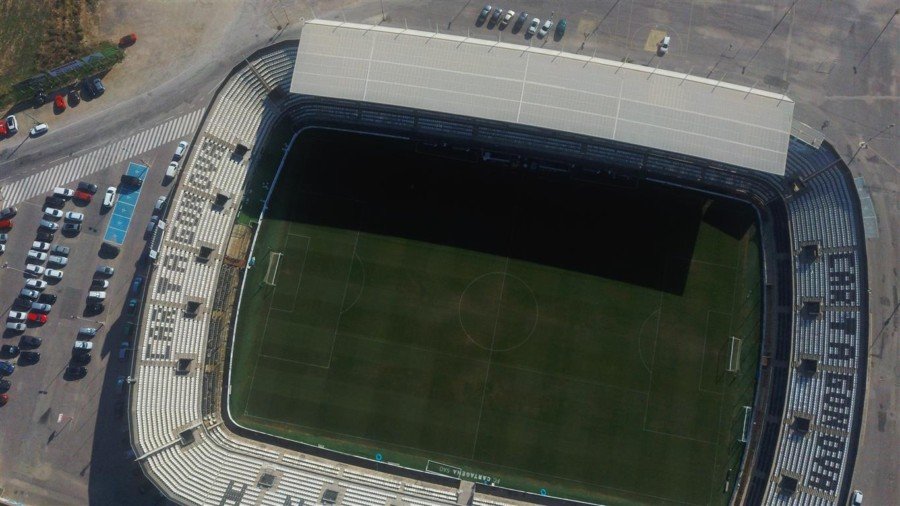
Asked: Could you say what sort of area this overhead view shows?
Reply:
sports ground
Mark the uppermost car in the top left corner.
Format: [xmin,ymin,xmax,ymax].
[121,34,138,47]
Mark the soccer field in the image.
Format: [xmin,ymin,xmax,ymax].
[230,127,763,506]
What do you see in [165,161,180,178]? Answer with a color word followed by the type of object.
white car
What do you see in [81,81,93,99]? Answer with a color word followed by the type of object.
black vehicle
